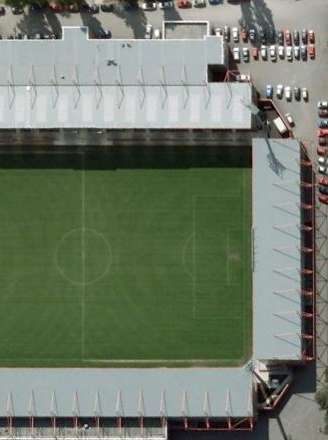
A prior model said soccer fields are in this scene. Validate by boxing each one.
[0,146,253,368]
